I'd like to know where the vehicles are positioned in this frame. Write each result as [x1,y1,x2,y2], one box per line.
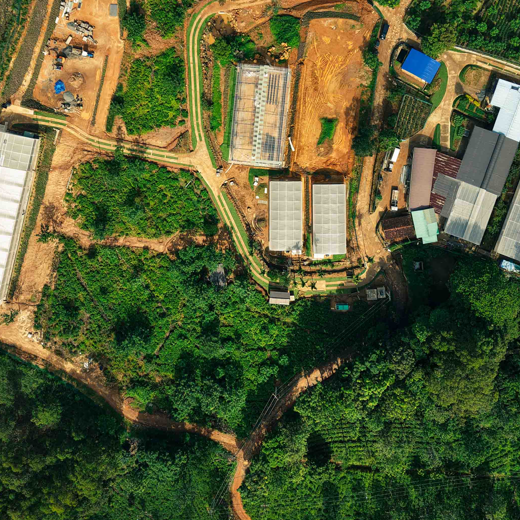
[71,48,95,57]
[391,189,399,211]
[52,64,64,70]
[388,148,401,170]
[381,24,389,40]
[55,56,69,63]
